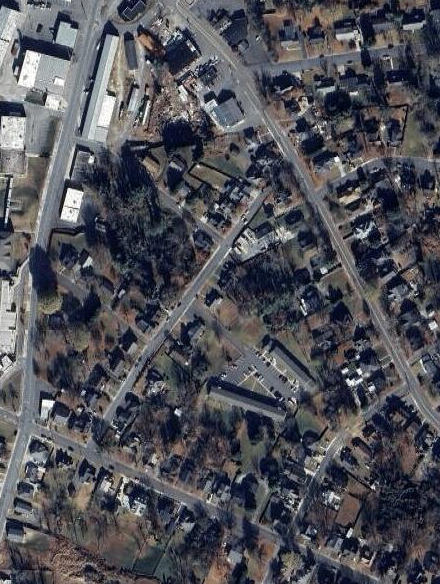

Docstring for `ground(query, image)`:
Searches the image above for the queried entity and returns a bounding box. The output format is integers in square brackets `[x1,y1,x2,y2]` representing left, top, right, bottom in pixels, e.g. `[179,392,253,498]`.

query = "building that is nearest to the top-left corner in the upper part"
[0,7,24,41]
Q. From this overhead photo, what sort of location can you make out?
residential area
